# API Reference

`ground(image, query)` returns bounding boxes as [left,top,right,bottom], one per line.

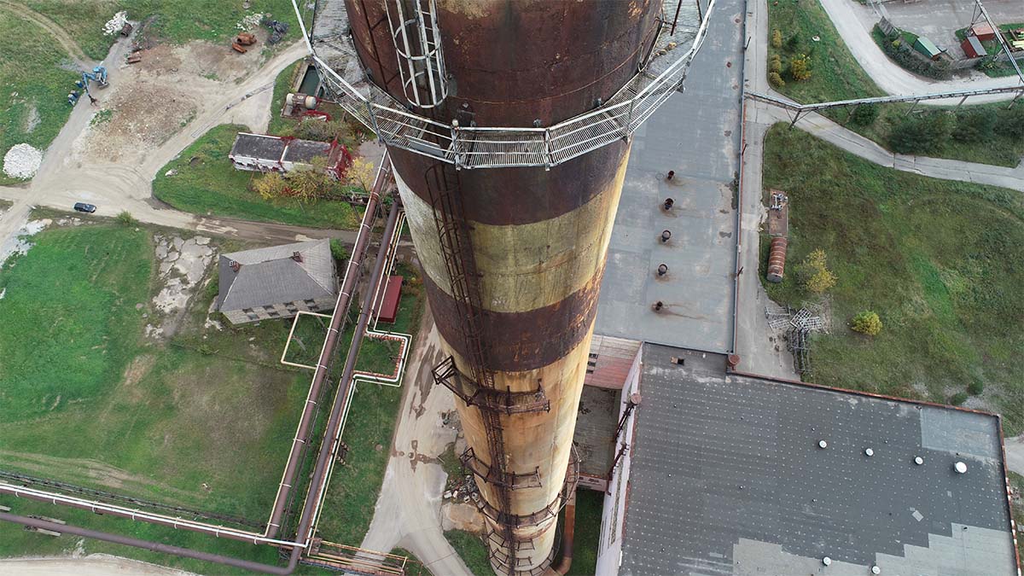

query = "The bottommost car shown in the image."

[72,200,98,215]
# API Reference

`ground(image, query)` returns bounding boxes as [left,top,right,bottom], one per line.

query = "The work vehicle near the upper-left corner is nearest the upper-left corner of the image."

[81,65,111,107]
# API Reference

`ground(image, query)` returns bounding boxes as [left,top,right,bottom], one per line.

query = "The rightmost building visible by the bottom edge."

[598,355,1022,576]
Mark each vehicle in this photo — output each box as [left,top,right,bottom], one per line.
[72,200,98,215]
[81,65,111,107]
